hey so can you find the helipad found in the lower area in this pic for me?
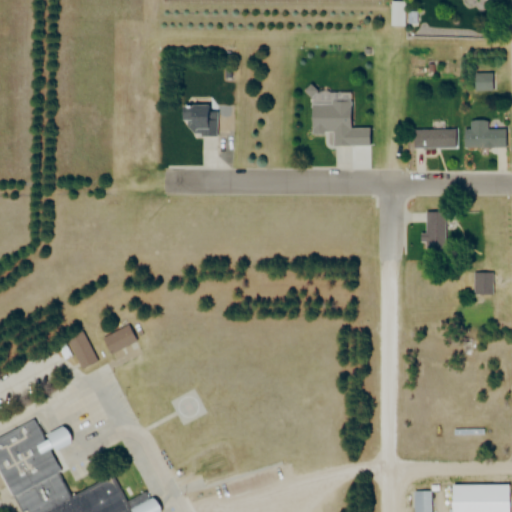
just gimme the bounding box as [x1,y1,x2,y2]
[172,390,208,425]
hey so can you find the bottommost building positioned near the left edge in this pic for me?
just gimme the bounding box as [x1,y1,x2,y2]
[0,418,160,512]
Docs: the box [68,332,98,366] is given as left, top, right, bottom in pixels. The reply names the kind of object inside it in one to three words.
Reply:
building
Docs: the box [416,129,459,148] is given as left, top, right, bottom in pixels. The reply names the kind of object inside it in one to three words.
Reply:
house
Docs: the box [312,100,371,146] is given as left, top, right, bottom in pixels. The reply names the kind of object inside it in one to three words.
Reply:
house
